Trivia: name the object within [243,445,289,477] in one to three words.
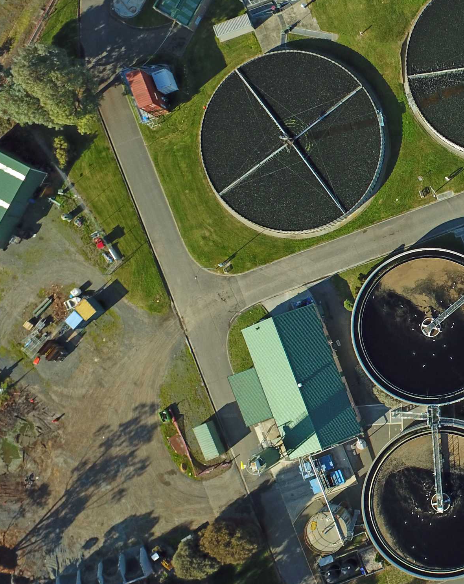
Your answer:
silo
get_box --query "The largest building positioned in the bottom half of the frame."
[228,304,366,460]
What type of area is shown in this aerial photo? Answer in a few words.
industrial area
